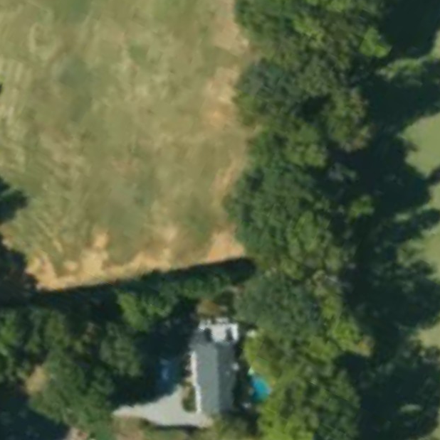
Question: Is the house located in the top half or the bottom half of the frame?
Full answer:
Seen from above, the house lies in the bottom half of the view.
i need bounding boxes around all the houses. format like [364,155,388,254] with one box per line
[196,347,238,416]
